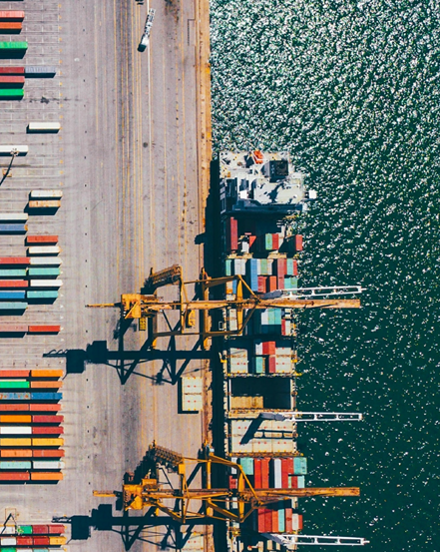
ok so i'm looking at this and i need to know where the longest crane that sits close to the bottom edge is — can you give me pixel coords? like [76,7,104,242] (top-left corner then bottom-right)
[87,440,364,525]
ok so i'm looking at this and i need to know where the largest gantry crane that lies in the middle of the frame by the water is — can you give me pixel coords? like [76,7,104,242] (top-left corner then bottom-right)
[85,264,360,355]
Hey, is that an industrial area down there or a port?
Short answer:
port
